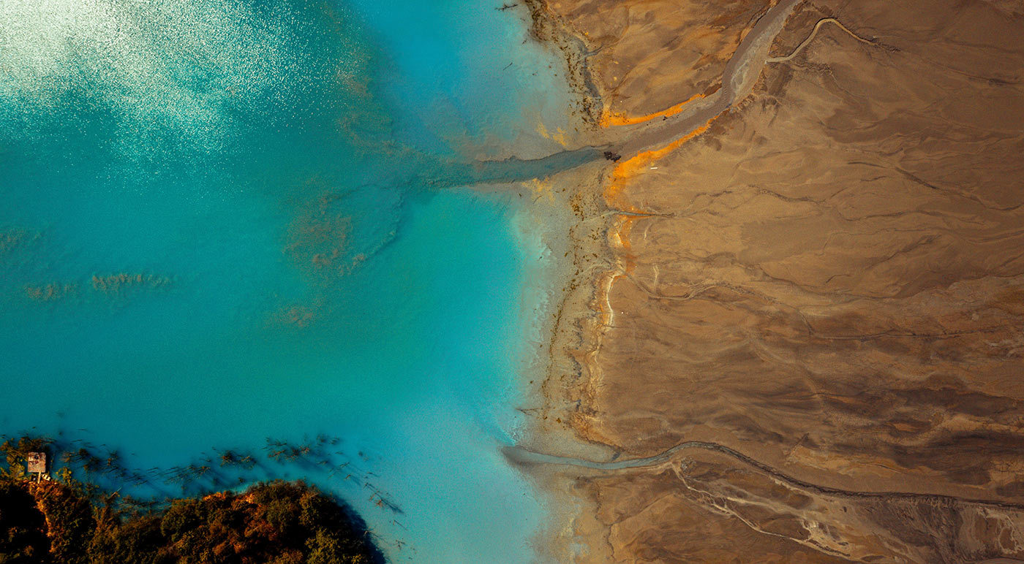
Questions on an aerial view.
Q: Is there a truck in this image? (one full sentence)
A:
No, the photo shows no truck.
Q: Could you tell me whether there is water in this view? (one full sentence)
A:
Yes, some water is visible.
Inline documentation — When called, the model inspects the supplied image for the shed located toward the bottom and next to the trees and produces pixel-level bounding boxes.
[28,451,51,473]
